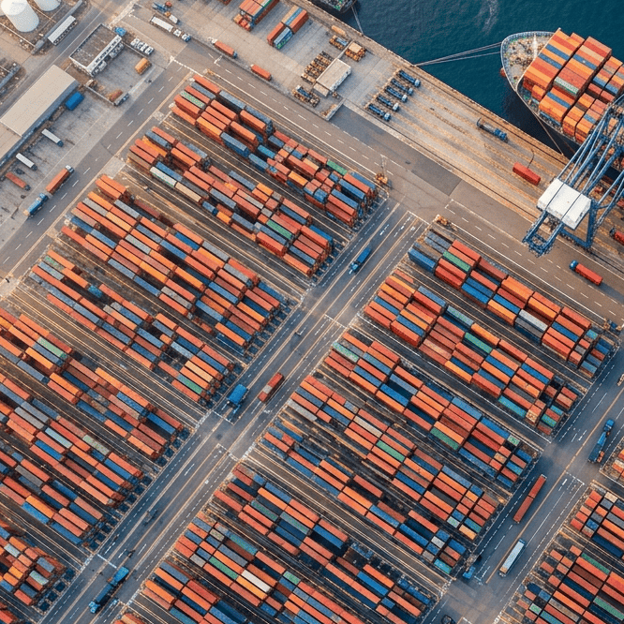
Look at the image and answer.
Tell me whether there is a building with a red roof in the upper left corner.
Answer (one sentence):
No, no building with a red roof can be made out in the upper left corner.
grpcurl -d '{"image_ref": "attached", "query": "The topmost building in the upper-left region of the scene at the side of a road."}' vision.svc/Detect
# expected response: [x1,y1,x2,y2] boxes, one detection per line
[63,16,121,73]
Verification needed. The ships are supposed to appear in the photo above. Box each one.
[497,34,624,186]
[310,0,365,23]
